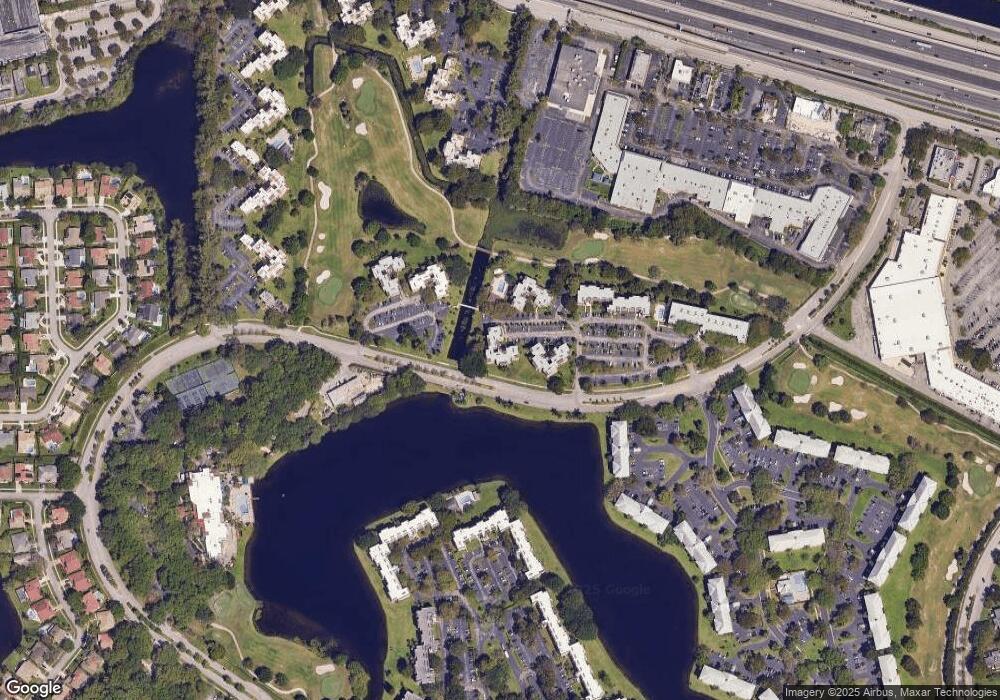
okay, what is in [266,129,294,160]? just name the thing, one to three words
swimming pool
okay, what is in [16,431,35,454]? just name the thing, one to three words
house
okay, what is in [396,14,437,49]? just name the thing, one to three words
building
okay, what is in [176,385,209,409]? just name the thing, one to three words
tennis court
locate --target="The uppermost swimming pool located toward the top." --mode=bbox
[407,56,437,80]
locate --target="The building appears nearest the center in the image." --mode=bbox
[485,325,519,367]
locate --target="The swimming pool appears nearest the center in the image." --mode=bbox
[488,268,508,302]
